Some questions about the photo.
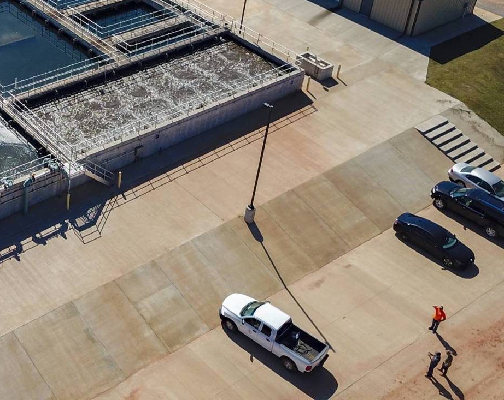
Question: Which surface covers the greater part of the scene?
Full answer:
What you mostly see from above here is paved ground.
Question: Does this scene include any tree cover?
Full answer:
No, there is no tree cover in the image.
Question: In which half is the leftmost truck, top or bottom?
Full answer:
It is in the bottom half that the leftmost truck appears.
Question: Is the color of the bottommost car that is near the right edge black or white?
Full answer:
The bottommost car that is near the right edge is black.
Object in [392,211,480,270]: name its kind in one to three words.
car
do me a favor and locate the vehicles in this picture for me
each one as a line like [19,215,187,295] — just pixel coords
[449,160,504,202]
[430,181,504,237]
[392,211,480,270]
[214,291,332,382]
